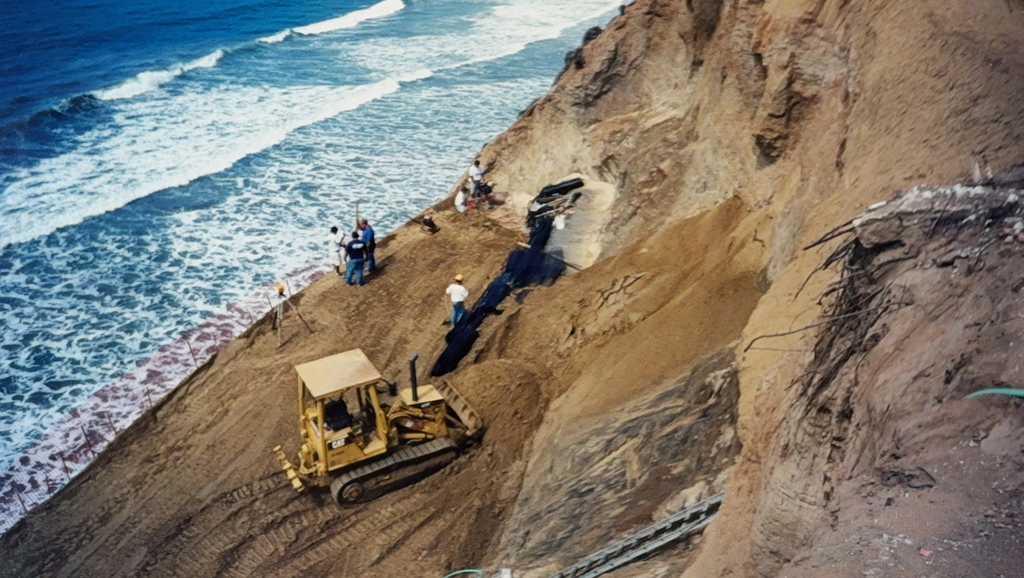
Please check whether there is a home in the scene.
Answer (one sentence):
No, this view has no home in it.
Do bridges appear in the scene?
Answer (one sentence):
No, there is no bridge in the image.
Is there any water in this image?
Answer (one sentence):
Yes, the picture does contain water.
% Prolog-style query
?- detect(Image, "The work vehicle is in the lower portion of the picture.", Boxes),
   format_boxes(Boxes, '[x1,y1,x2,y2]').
[272,346,484,506]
